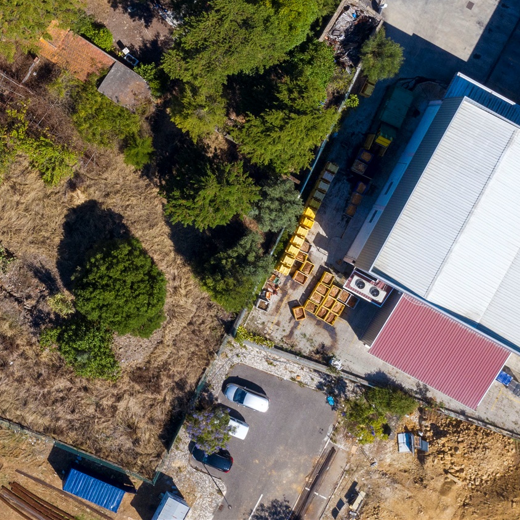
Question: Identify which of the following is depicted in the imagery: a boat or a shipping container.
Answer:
shipping container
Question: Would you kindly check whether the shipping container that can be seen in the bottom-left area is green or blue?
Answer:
blue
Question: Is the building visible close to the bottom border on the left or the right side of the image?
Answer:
left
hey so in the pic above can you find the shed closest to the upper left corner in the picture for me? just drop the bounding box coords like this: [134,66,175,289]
[40,23,116,80]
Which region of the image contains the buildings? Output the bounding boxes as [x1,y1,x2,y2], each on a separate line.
[98,62,151,108]
[144,483,190,520]
[40,23,116,80]
[337,95,520,355]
